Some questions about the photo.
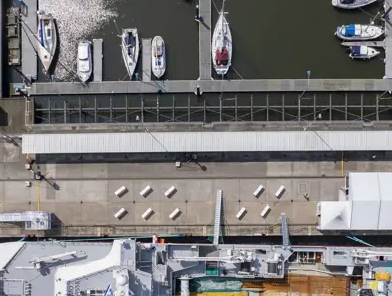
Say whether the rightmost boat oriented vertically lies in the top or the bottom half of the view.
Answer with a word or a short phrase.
top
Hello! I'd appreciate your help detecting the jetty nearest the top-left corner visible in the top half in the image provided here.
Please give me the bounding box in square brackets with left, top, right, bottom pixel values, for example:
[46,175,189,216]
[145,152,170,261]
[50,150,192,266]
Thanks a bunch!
[20,0,36,78]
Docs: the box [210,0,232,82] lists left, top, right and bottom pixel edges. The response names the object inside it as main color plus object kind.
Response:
white boat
